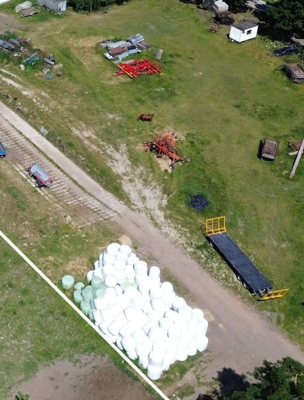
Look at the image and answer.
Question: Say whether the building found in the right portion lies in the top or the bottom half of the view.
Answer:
top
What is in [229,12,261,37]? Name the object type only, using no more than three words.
building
